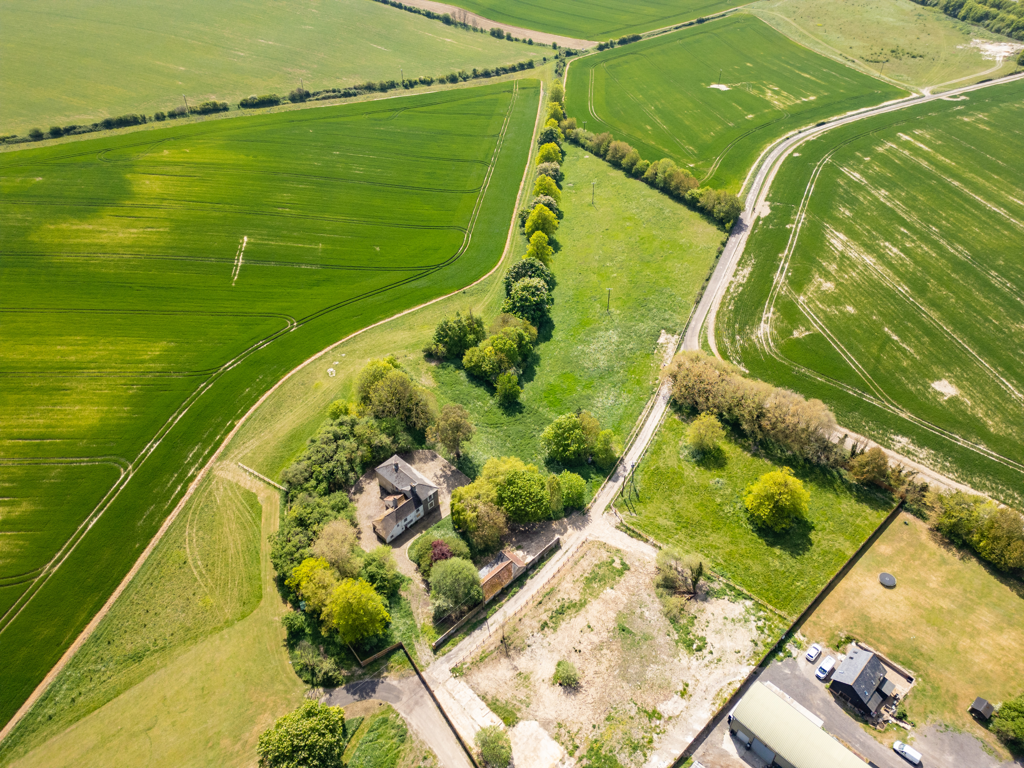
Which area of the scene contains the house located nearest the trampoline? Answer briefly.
bottom right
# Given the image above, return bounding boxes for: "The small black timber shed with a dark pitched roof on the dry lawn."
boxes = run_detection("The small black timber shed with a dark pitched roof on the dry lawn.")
[967,695,995,722]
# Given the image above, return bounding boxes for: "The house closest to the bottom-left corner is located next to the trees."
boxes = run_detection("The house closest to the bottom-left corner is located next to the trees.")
[370,453,444,543]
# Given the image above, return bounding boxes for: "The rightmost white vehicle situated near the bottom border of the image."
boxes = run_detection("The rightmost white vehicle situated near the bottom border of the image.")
[890,739,926,768]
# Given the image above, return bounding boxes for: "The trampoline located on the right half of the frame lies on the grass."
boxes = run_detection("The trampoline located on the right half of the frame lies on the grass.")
[877,573,897,590]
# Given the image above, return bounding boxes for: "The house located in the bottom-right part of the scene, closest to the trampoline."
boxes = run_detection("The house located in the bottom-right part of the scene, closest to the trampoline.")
[827,647,897,717]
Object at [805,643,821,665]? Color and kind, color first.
white car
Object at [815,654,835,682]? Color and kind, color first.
white vehicle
